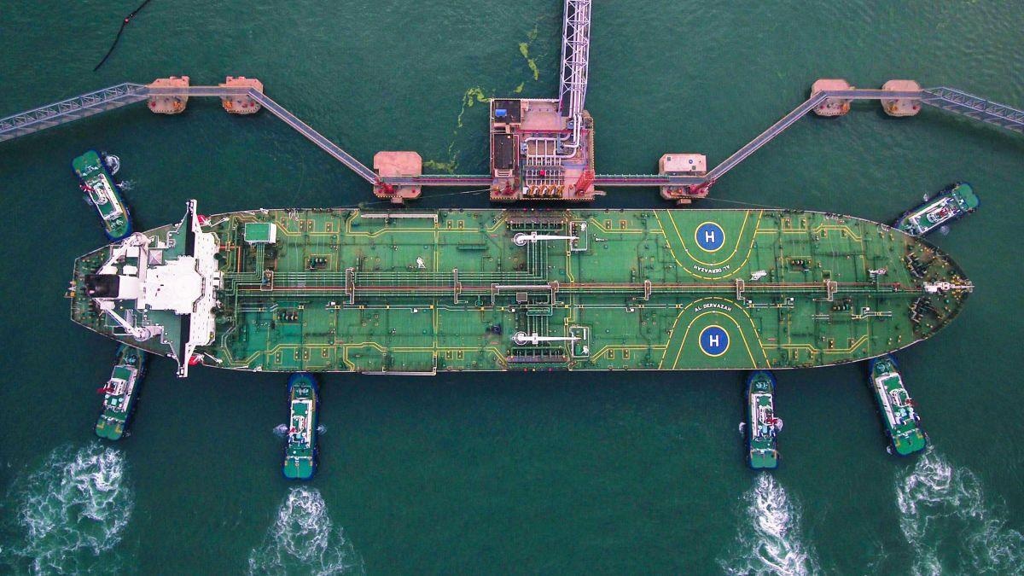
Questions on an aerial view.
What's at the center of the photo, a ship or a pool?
ship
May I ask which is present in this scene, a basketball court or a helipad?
helipad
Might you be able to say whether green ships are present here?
Yes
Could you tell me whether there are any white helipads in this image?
No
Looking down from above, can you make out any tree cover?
No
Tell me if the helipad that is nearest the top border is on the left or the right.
right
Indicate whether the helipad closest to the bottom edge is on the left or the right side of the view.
right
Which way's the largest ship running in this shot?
from side to side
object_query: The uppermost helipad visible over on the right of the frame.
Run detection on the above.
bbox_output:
[654,210,763,279]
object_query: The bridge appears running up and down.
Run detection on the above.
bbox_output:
[558,0,591,110]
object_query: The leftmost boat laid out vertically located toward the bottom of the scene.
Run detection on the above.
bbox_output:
[93,342,146,443]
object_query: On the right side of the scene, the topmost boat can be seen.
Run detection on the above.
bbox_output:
[889,178,982,239]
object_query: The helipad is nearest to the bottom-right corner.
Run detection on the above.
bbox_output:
[659,297,770,368]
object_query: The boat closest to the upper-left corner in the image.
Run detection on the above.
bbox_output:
[68,148,135,245]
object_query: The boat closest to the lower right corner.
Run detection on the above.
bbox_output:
[871,354,925,456]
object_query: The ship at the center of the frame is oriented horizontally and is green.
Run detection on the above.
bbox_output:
[63,200,976,377]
